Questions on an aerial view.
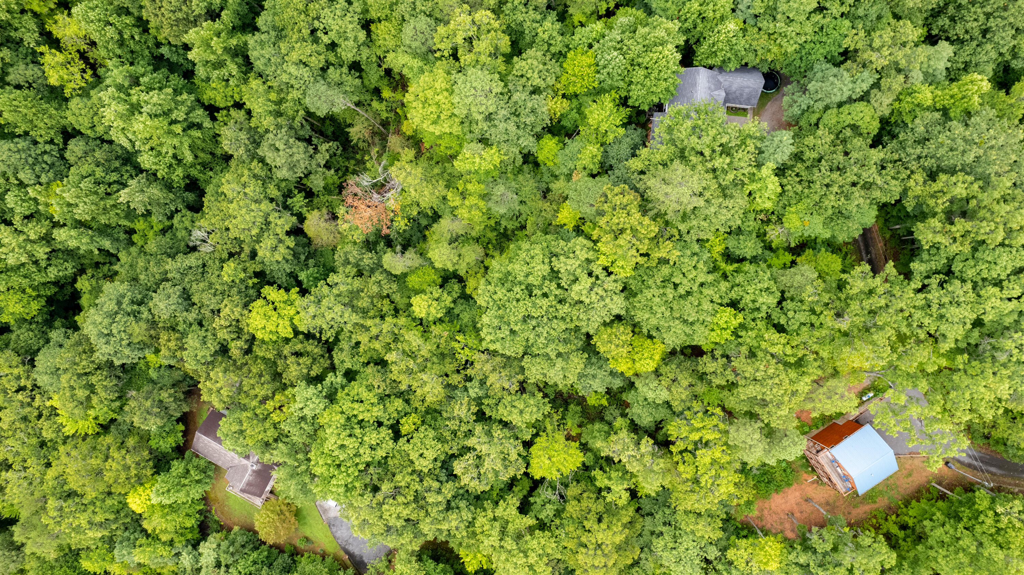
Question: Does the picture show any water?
No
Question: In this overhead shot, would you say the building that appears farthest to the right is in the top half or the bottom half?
bottom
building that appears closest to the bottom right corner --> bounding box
[800,421,899,497]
